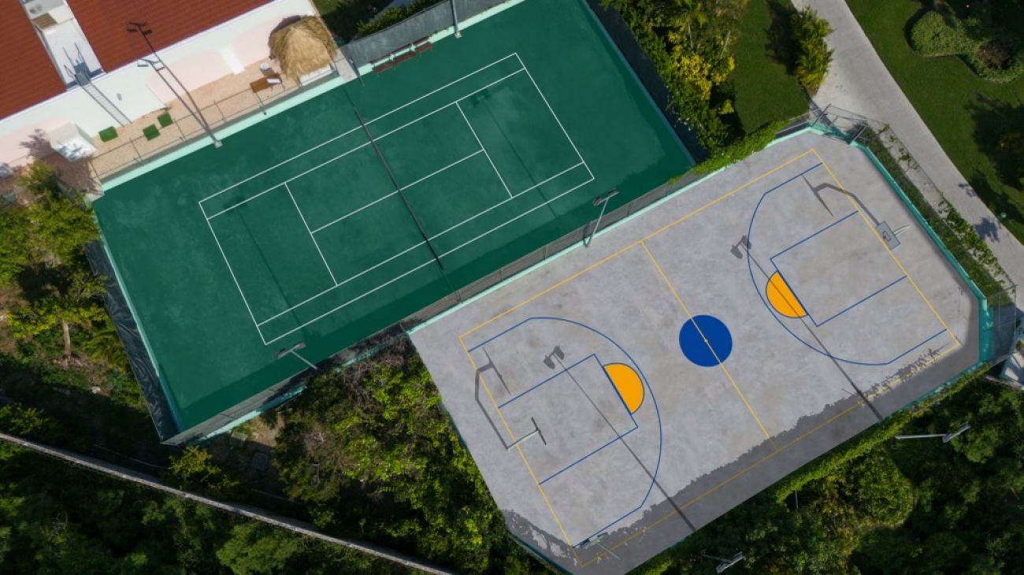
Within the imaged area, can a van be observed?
No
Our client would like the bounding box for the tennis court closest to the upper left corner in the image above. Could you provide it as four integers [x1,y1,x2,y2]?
[98,0,692,434]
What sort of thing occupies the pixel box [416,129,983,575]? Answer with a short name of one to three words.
basketball court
